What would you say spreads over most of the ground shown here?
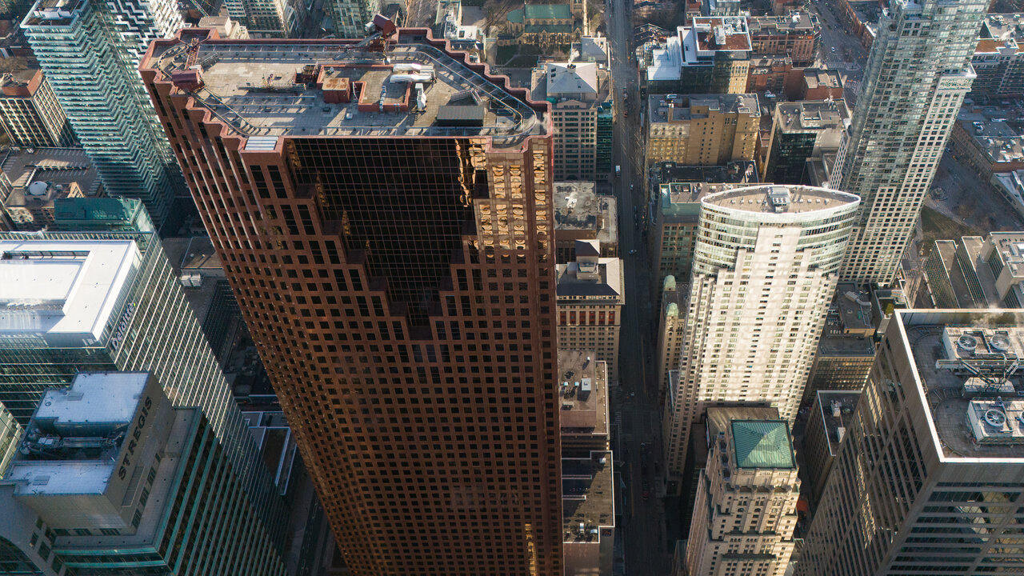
buildings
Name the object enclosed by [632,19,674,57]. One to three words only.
building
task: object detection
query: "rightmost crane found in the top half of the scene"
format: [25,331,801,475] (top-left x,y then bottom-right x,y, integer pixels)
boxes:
[327,16,400,56]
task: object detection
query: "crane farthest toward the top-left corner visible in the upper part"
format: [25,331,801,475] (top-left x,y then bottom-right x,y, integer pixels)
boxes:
[168,39,206,94]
